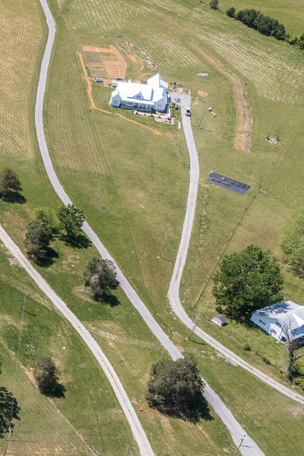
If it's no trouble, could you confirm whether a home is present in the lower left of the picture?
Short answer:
No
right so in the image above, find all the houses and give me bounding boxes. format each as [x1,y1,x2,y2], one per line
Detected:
[110,74,172,113]
[251,300,304,345]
